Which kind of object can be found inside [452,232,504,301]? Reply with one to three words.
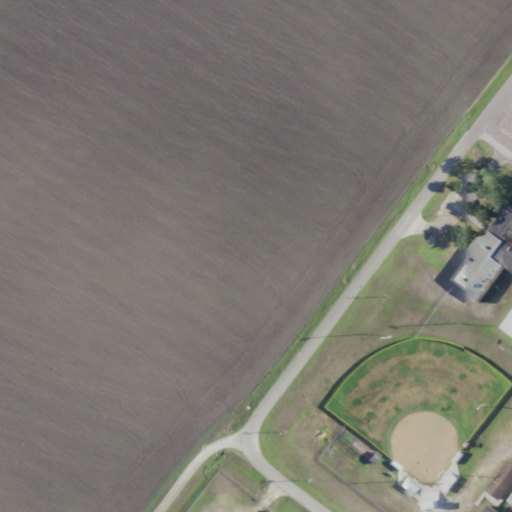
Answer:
building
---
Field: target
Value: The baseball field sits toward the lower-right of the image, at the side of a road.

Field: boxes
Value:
[326,338,511,484]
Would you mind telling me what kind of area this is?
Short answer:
farmland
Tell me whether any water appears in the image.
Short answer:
No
